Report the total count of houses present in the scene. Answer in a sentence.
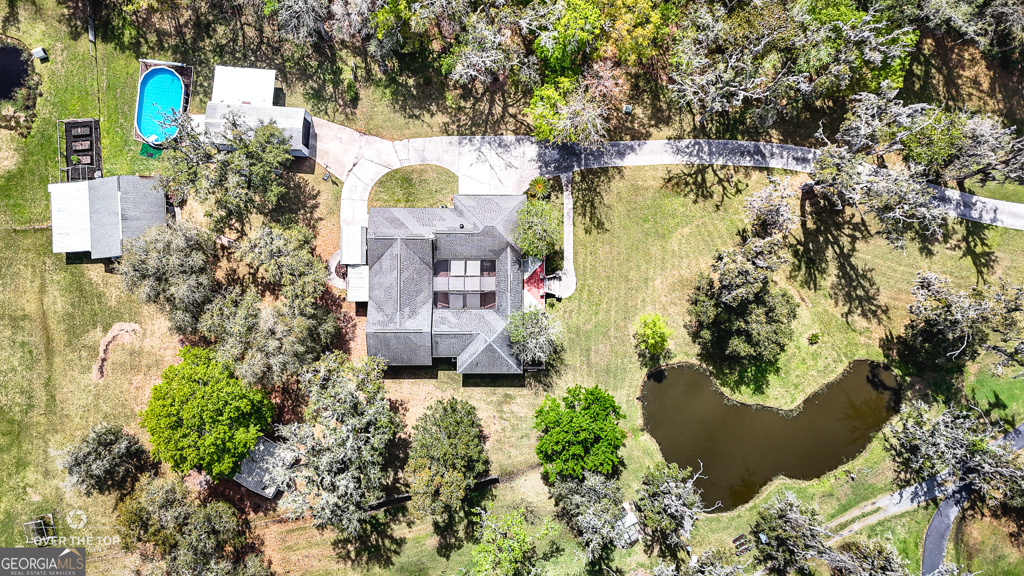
The number of houses here is 2.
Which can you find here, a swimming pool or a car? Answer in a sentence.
Looking from above, you can make out a swimming pool.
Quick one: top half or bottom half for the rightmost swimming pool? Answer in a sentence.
Seen from above, the rightmost swimming pool lies in the top half of the view.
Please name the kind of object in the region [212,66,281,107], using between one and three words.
shed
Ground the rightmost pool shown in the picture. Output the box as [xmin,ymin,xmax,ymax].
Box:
[136,66,188,144]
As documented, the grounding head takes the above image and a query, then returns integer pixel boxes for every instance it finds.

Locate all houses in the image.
[49,176,175,261]
[366,194,527,374]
